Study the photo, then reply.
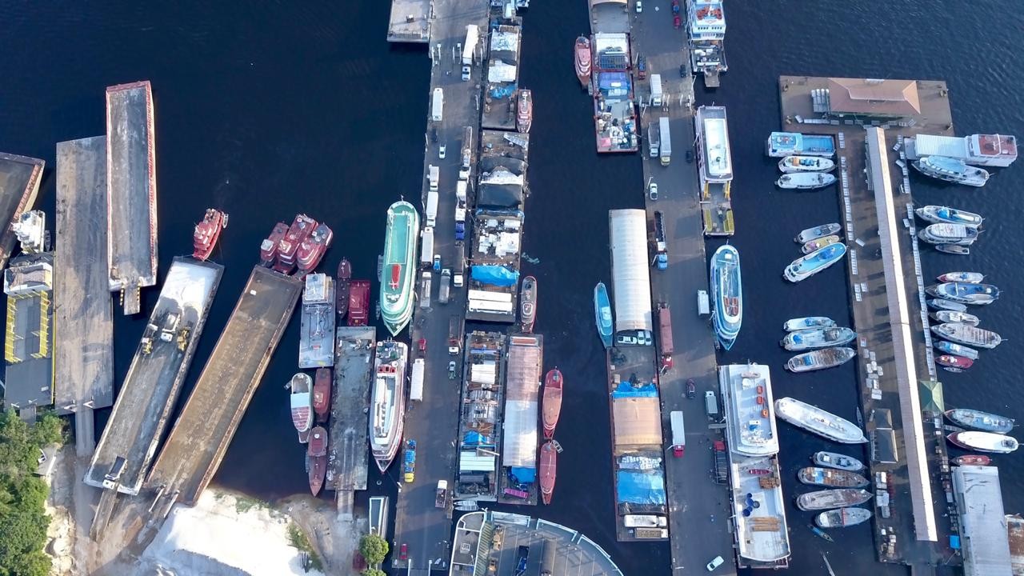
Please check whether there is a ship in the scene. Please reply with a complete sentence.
Yes, a ship is visible in the scene.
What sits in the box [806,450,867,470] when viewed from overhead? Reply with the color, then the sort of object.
blue boat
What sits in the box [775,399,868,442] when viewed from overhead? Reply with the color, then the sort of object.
white boat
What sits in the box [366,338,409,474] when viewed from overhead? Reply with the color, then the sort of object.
white ship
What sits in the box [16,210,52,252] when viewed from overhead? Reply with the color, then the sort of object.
white boat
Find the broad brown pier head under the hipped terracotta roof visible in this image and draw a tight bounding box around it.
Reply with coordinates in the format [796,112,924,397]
[778,75,955,139]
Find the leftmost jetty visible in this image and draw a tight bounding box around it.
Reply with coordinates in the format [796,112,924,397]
[367,497,388,541]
